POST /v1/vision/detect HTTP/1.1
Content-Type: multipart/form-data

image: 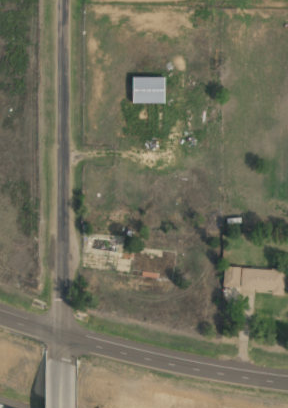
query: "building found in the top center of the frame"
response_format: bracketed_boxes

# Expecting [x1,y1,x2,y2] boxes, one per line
[132,76,165,104]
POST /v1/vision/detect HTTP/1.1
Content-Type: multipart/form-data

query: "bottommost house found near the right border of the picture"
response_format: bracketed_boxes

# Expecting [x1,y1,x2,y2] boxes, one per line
[223,266,284,296]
